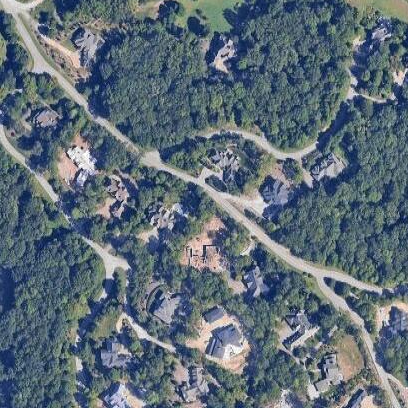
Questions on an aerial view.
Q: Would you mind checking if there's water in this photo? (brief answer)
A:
No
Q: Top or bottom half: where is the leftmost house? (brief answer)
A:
top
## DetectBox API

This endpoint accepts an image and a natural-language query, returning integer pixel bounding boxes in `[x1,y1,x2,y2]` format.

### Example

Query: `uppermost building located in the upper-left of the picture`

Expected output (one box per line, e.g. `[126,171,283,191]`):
[74,28,104,68]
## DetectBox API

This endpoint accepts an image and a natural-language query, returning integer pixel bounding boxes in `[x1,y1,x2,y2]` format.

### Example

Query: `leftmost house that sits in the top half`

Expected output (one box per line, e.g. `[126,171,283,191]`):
[33,109,59,132]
